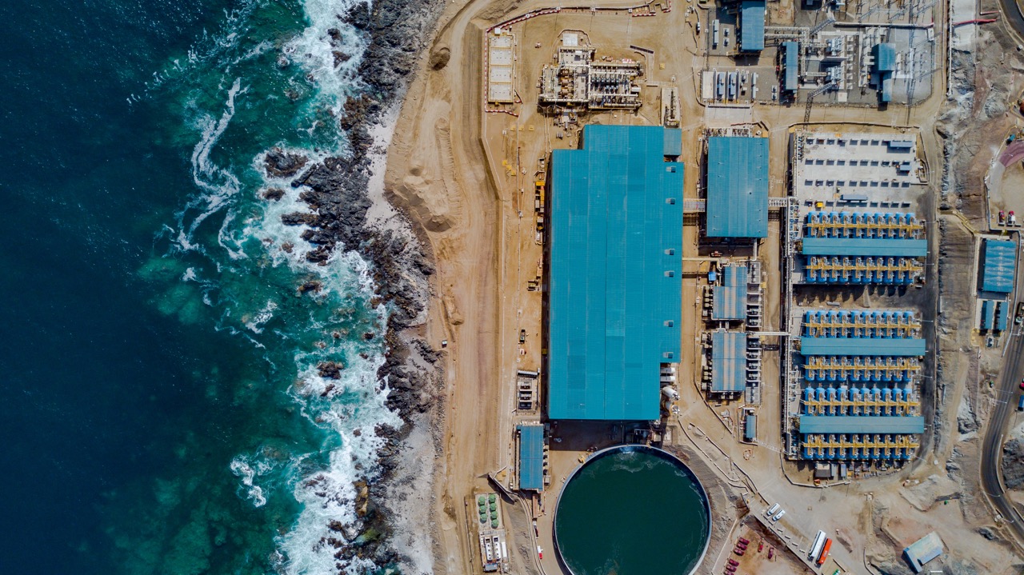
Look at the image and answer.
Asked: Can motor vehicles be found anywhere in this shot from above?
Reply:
Yes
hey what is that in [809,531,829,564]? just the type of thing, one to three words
bus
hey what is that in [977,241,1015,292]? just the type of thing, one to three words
building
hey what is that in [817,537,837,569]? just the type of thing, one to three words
bus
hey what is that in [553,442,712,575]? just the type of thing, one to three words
water tank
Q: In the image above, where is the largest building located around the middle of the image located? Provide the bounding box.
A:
[547,125,684,420]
